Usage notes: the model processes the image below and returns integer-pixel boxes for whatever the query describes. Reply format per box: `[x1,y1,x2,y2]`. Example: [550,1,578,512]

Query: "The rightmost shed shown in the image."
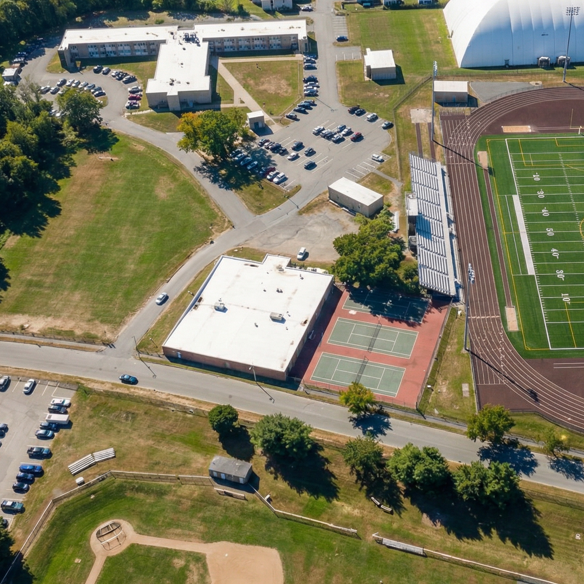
[433,81,468,102]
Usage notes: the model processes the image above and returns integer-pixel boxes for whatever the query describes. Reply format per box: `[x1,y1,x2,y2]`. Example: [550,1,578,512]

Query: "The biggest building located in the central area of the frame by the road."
[162,254,334,380]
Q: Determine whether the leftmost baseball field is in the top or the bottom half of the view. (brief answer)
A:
bottom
